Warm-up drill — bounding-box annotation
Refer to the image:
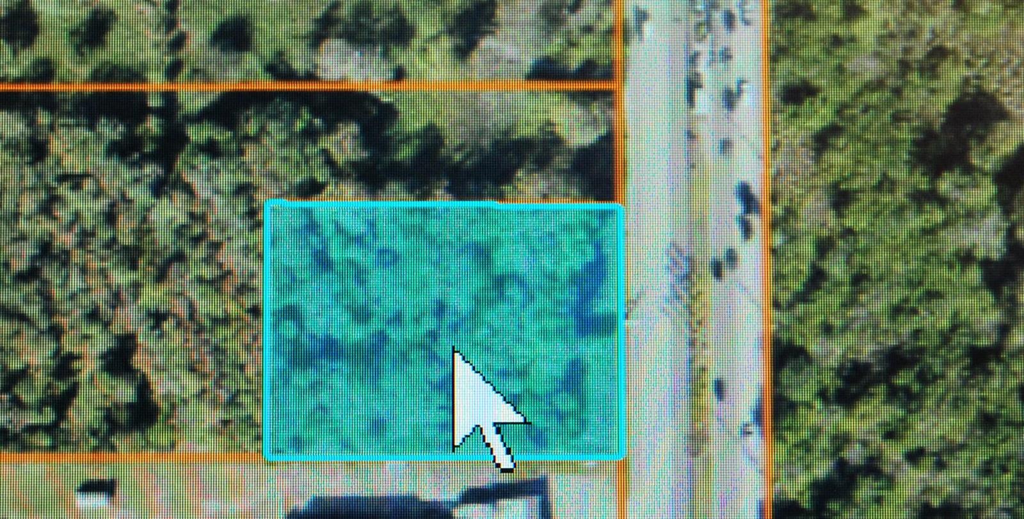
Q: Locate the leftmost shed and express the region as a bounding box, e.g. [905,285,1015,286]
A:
[75,494,106,510]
